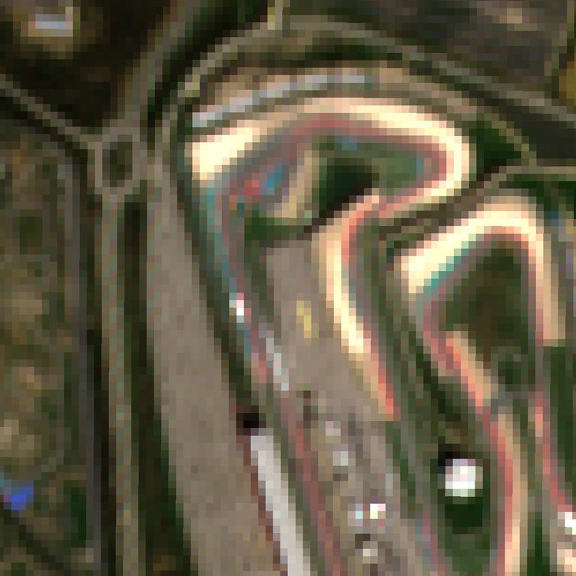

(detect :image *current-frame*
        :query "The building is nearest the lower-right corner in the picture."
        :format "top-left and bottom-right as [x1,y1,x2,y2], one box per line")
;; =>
[445,458,478,499]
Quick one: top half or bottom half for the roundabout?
top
